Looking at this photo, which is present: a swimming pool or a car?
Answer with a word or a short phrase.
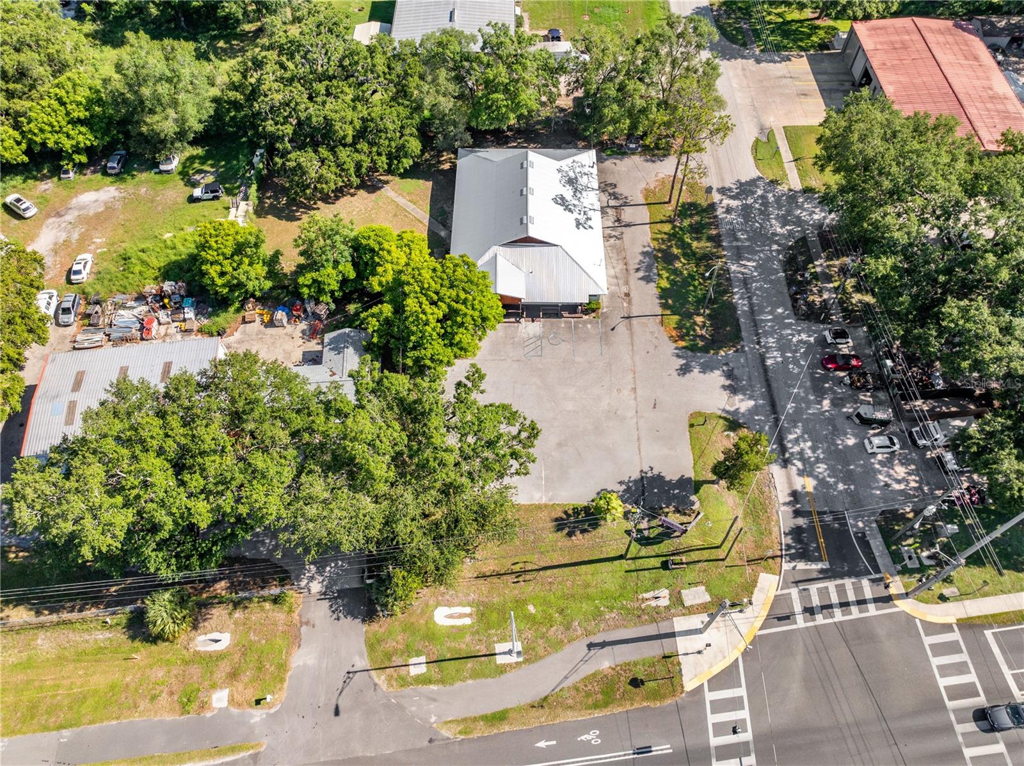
car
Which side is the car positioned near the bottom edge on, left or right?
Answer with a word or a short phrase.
right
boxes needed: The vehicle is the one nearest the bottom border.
[984,701,1024,728]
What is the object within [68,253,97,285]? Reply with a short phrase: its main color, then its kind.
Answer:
white car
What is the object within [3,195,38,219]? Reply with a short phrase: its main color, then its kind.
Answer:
white car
